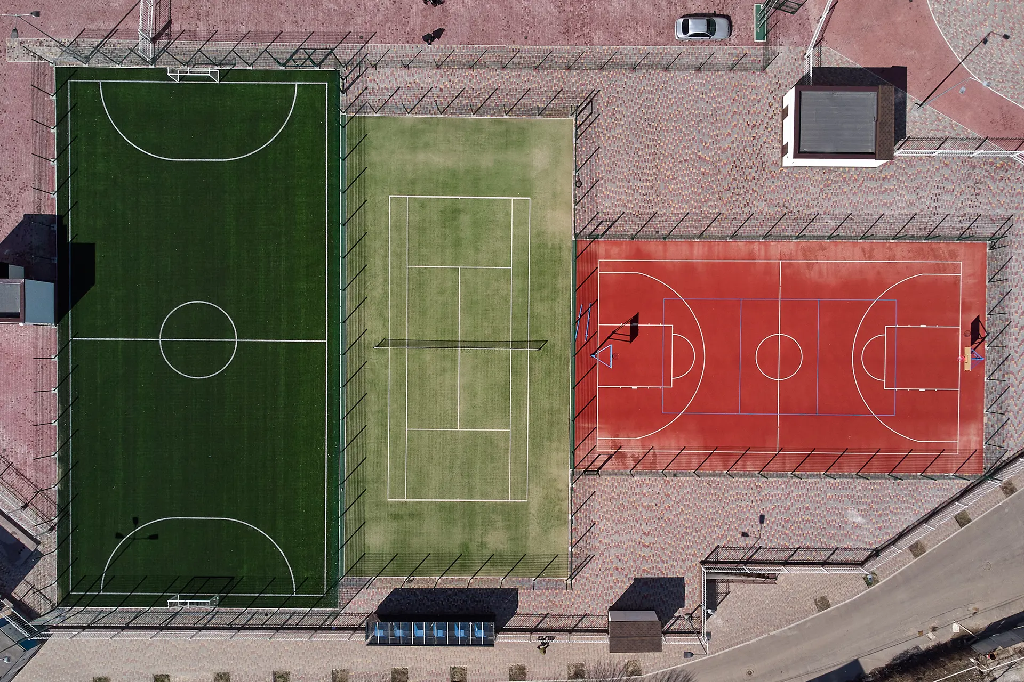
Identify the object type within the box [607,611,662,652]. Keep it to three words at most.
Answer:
shed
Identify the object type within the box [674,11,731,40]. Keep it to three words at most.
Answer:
car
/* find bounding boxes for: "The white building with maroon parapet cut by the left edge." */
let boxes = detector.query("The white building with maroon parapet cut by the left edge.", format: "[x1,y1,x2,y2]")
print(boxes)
[0,278,56,326]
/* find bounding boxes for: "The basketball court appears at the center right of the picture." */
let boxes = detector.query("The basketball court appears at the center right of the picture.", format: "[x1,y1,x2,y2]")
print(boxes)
[573,240,987,474]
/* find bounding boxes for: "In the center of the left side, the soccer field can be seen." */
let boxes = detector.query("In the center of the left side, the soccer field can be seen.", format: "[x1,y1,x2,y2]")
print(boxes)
[56,67,339,608]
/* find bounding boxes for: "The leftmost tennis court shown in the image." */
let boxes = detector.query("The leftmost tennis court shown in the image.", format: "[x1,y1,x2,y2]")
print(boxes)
[345,116,573,577]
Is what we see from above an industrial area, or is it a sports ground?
sports ground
